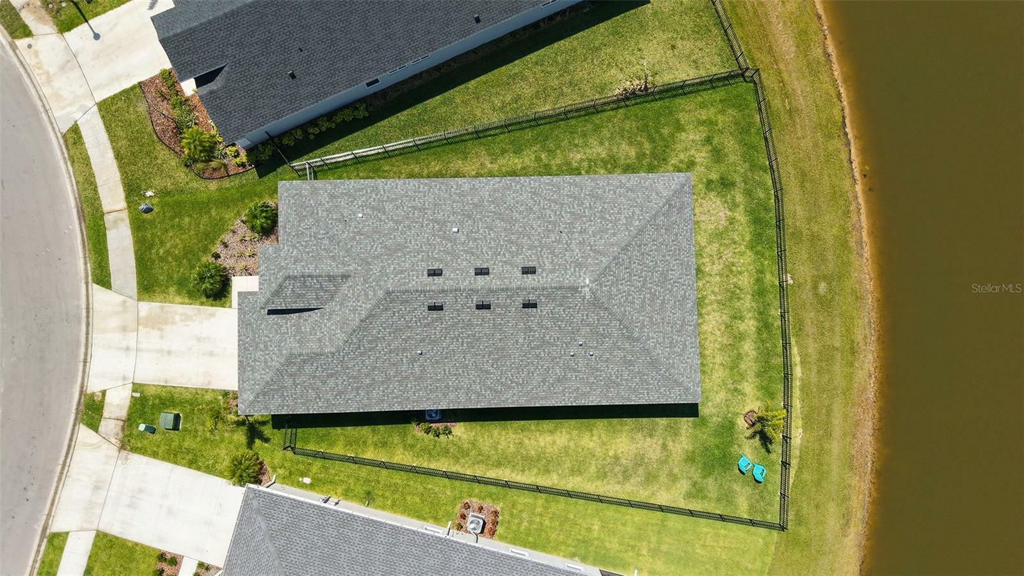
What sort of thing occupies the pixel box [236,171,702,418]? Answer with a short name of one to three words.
house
